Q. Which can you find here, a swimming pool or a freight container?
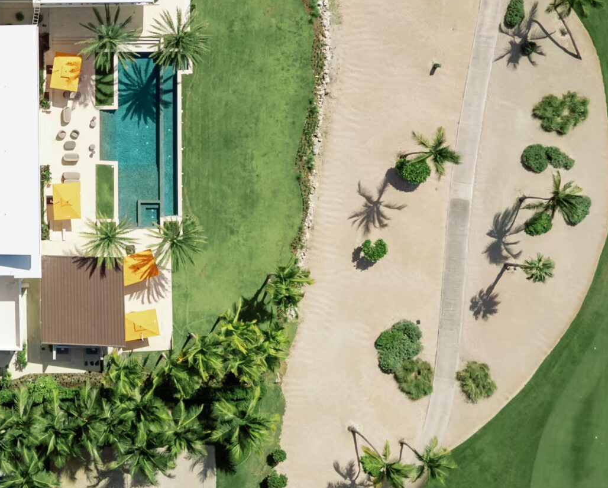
swimming pool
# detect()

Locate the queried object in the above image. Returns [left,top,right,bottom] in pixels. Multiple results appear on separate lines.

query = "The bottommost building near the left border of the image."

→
[29,255,126,373]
